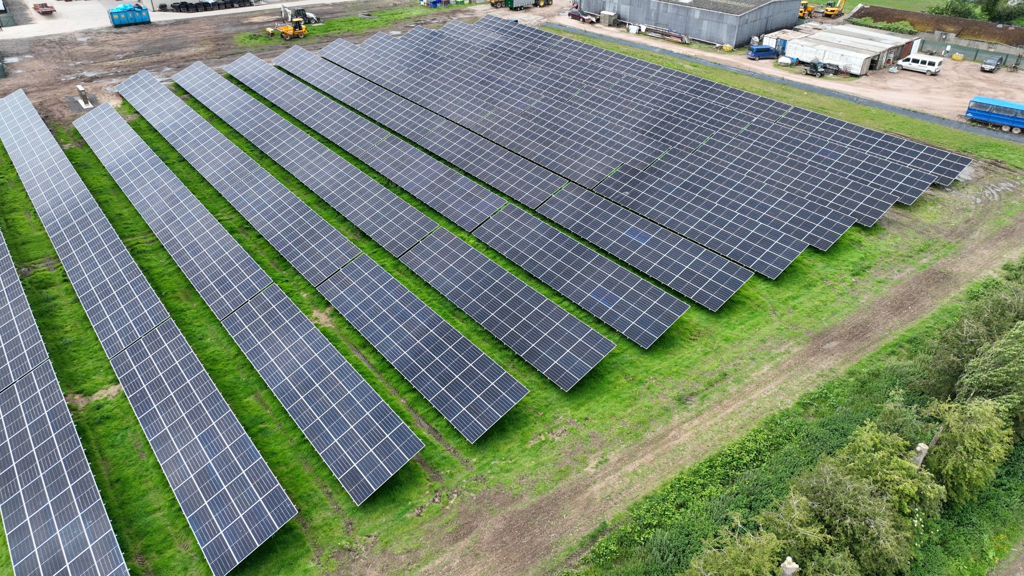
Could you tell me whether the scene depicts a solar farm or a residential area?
solar farm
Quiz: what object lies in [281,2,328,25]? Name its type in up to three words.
work vehicle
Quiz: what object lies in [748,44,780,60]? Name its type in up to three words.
vehicle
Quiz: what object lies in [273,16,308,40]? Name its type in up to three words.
truck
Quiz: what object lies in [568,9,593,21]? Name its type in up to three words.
vehicle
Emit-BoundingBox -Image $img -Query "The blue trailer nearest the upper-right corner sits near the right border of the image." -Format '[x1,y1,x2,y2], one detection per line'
[954,97,1024,134]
